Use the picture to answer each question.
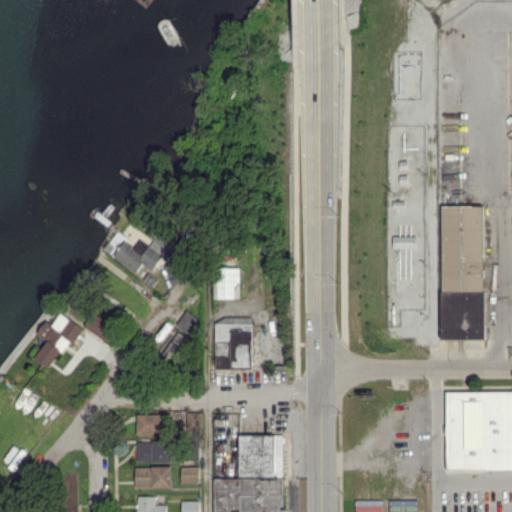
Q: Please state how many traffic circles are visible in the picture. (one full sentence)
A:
The picture shows no traffic circles.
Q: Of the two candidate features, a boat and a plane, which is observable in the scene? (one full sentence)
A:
This aerial view contains a boat.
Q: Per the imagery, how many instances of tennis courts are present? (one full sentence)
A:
There are no tennis courts in the image.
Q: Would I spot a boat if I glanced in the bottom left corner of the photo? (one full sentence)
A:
Yes, there is a boat in the bottom left corner of the photo.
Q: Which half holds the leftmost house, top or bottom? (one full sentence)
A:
Seen from above, the leftmost house lies in the bottom half of the view.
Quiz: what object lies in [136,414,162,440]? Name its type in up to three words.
house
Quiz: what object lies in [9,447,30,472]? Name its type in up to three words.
boat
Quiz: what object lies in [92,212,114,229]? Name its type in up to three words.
boat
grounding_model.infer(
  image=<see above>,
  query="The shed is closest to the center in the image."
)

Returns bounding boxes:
[214,268,240,300]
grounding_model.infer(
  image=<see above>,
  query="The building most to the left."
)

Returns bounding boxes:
[32,313,84,370]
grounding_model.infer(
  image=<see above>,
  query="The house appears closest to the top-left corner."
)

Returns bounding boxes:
[104,225,166,276]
